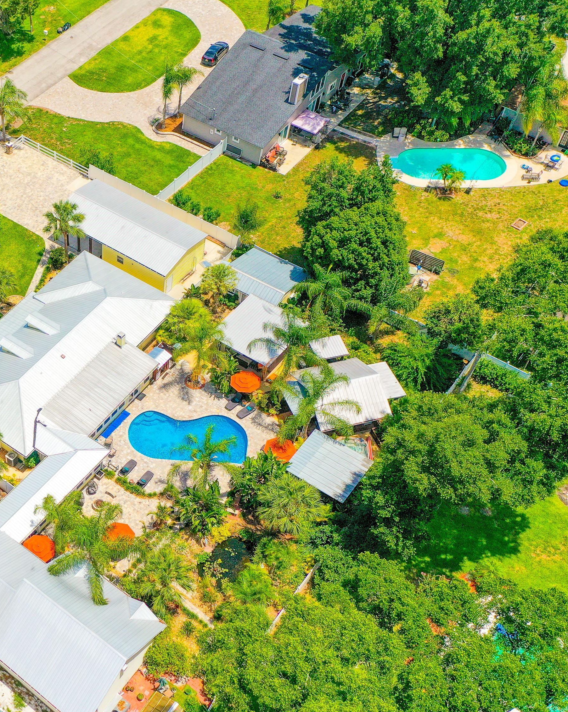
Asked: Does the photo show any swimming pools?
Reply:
Yes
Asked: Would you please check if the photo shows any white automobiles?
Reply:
No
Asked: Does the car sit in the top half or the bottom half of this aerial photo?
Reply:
top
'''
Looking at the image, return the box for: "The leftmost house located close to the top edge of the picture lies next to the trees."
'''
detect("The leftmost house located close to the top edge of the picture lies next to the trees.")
[179,11,364,165]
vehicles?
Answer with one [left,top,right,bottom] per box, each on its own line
[203,41,229,66]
